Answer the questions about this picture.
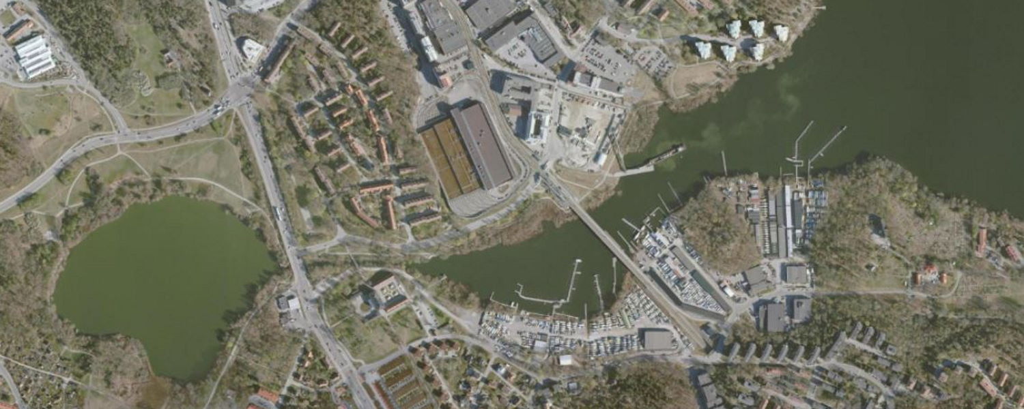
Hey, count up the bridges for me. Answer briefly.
1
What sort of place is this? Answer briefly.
port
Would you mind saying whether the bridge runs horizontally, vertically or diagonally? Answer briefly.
diagonally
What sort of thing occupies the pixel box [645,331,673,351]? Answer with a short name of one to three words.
shed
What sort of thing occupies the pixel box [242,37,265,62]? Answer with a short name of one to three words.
building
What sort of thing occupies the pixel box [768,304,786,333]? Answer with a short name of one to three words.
building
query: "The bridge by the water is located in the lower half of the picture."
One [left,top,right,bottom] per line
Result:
[537,169,711,352]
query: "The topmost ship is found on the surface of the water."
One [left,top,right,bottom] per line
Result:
[640,146,684,169]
